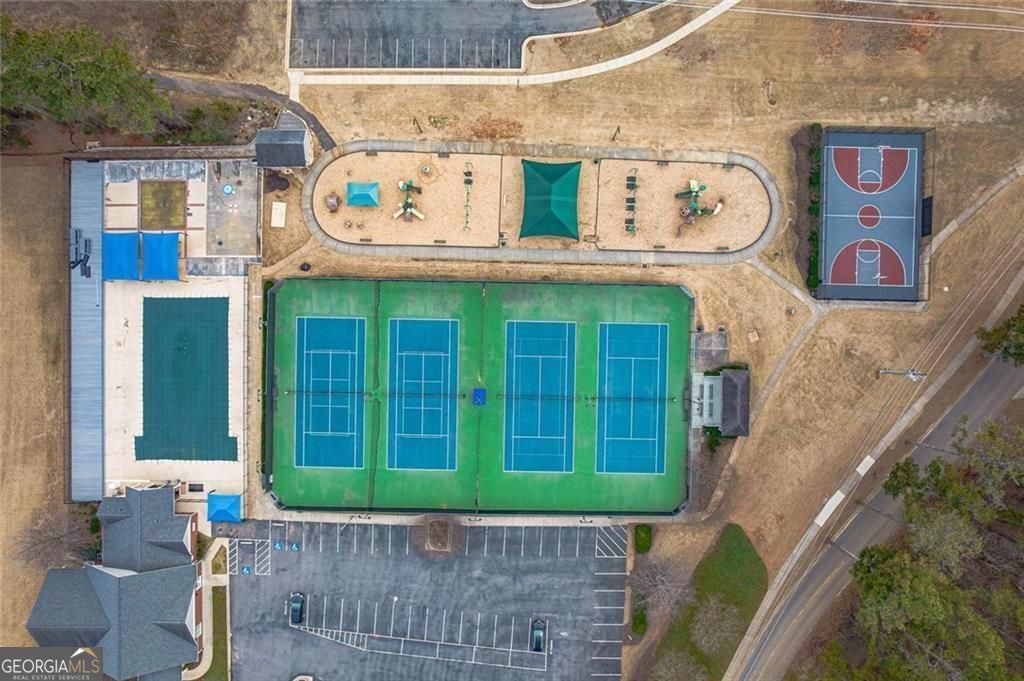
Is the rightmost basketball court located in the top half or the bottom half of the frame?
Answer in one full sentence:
You can find the rightmost basketball court in the top half.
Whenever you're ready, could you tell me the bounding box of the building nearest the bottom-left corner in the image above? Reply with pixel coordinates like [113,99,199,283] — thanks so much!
[26,485,201,681]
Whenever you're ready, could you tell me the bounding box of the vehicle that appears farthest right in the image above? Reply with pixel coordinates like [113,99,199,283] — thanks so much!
[532,619,546,651]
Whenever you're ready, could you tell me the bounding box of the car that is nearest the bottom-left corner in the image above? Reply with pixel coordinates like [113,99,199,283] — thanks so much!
[289,591,305,623]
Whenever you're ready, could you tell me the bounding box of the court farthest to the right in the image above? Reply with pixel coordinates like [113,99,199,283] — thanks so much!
[816,131,923,301]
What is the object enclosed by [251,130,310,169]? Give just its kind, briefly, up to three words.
building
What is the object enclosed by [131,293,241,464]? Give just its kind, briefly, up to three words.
swimming pool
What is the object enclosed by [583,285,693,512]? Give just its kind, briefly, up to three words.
tennis court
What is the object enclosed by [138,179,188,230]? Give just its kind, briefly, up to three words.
swimming pool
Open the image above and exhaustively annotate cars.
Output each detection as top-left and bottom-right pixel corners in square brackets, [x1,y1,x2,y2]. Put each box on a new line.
[532,619,546,651]
[289,591,305,623]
